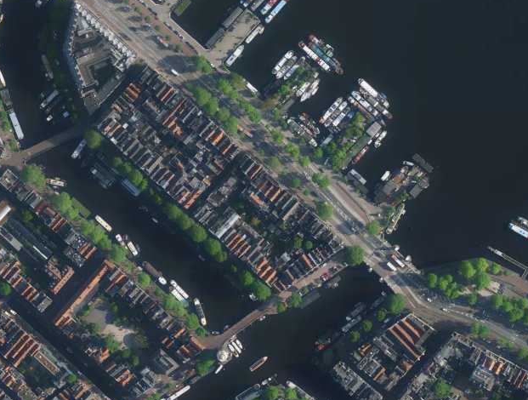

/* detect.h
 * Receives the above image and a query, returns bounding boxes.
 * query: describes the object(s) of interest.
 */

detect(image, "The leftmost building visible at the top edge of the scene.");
[68,1,138,114]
